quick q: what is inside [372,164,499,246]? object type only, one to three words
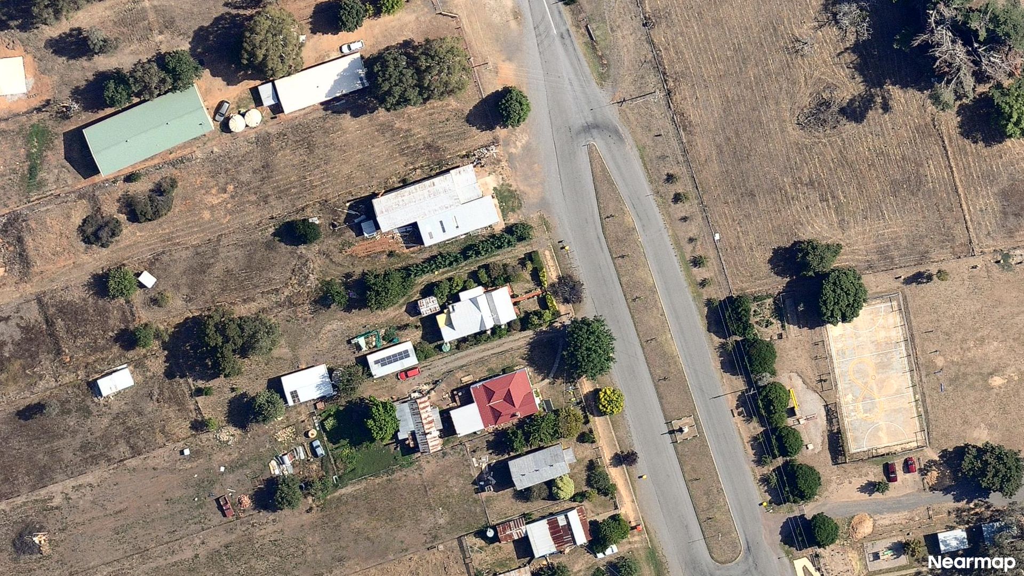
building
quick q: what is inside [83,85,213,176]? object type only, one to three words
shed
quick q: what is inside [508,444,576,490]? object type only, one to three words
house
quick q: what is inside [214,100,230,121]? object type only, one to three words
car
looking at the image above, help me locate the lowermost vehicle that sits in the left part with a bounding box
[218,494,233,518]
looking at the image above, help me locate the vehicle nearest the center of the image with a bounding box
[397,367,421,380]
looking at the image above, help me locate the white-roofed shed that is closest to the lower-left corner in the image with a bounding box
[89,364,133,397]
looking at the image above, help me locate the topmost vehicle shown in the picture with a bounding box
[340,40,364,54]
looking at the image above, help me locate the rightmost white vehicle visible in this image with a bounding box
[595,545,619,558]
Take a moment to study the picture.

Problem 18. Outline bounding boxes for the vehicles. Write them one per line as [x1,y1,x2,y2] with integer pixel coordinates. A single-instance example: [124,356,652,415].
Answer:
[888,462,898,483]
[214,100,230,121]
[595,545,619,558]
[218,494,233,518]
[340,40,364,54]
[397,367,421,380]
[312,438,325,459]
[906,456,916,474]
